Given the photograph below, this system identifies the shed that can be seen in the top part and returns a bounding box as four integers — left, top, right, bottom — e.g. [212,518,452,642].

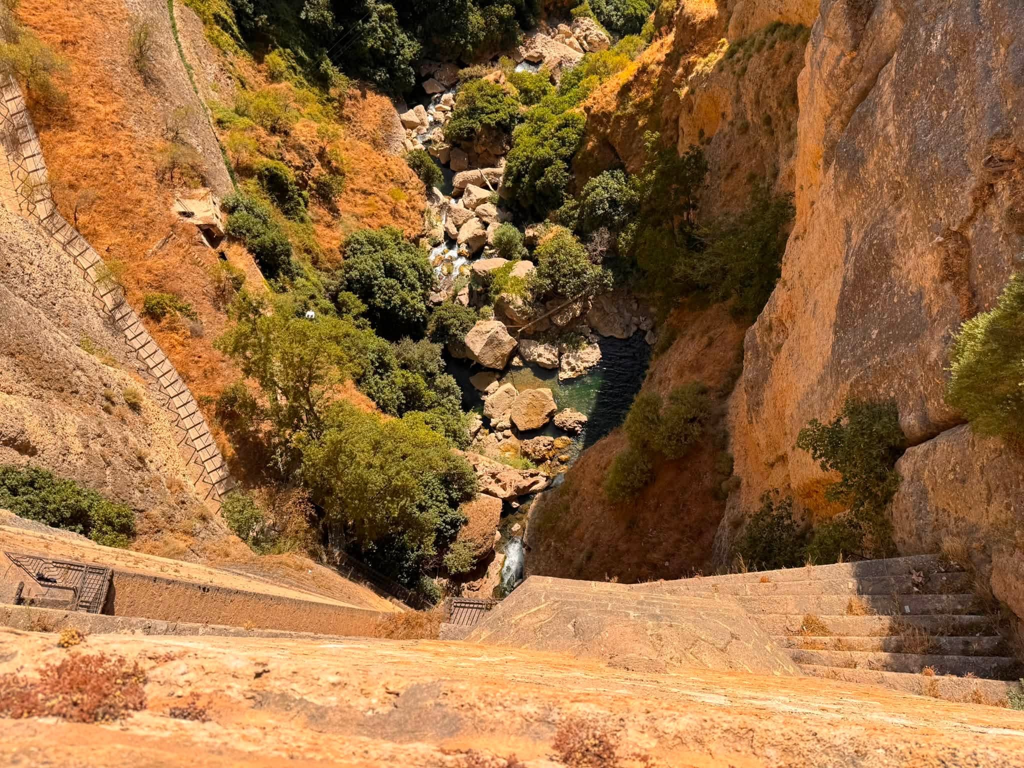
[169,192,233,257]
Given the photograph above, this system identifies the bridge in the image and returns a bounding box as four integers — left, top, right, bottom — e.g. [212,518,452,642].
[0,623,1024,768]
